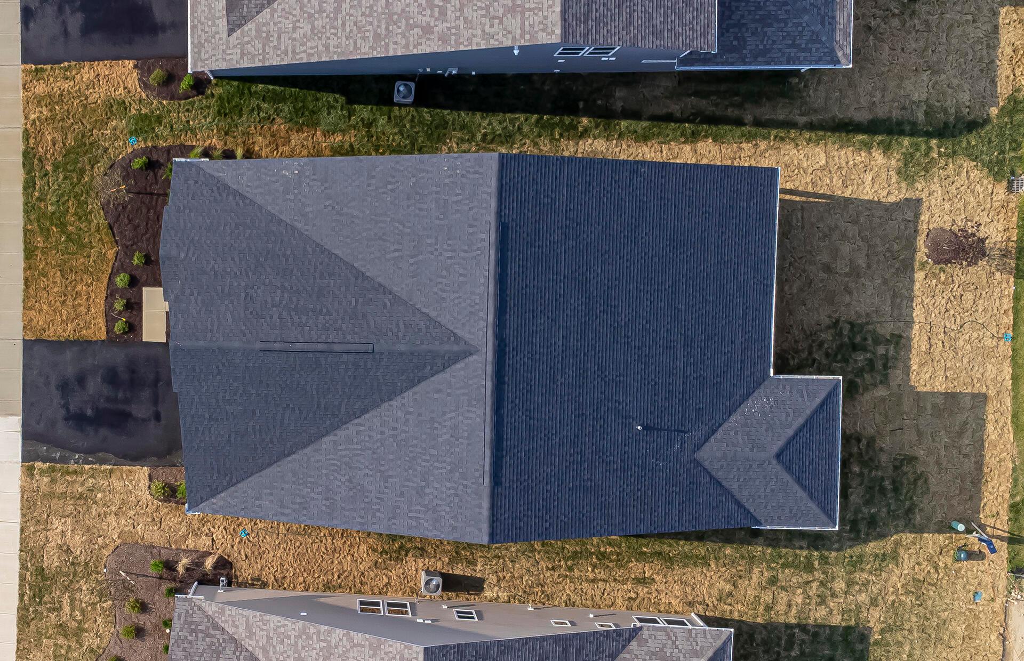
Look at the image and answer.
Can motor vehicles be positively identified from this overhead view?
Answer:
No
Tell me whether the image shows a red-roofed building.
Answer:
No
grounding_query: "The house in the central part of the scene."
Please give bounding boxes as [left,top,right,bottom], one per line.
[160,153,843,544]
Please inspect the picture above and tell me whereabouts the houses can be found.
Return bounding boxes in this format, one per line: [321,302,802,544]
[168,579,735,661]
[160,153,843,544]
[186,0,854,86]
